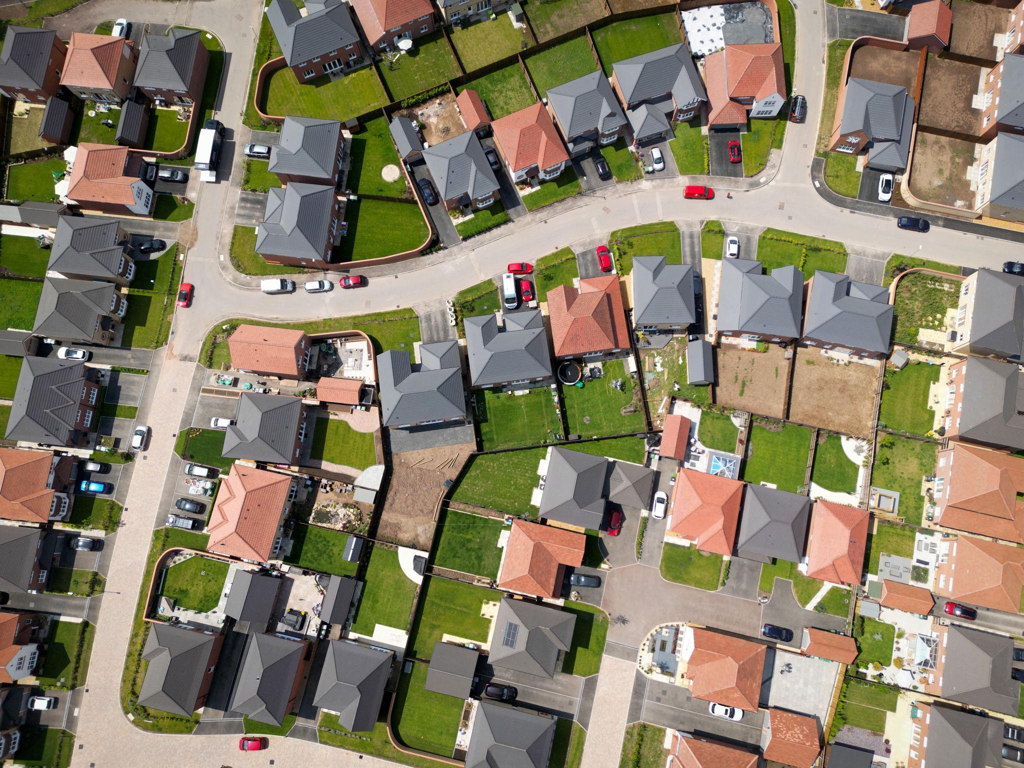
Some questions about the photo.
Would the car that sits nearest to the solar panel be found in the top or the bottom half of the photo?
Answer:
bottom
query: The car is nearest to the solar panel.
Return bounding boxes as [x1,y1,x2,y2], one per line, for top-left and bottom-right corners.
[485,683,518,703]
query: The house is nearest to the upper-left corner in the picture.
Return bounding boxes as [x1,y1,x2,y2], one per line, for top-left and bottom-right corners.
[0,26,69,104]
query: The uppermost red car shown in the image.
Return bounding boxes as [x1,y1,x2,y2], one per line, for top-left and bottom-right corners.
[729,141,742,164]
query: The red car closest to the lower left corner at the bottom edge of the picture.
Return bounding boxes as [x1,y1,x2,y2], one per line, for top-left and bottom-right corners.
[238,736,267,752]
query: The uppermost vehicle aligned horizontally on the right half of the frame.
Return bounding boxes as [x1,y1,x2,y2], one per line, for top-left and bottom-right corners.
[683,184,714,200]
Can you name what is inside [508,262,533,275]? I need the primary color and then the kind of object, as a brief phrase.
red vehicle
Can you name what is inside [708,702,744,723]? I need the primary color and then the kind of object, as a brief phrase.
white car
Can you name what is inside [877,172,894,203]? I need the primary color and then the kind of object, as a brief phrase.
white car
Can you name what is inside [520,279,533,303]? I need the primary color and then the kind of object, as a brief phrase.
red vehicle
